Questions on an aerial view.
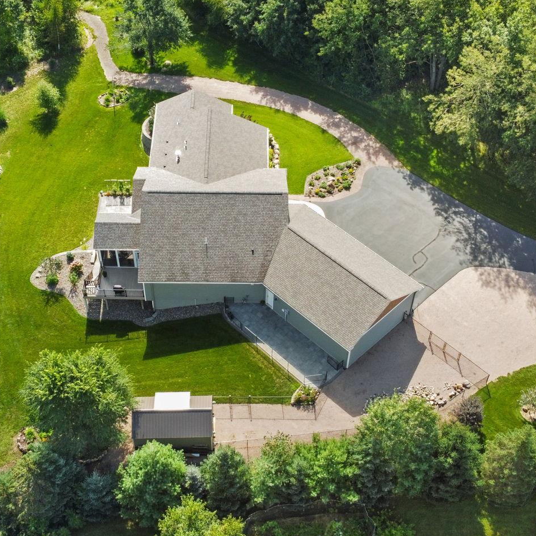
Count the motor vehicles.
0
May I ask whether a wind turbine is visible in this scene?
No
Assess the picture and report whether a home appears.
Yes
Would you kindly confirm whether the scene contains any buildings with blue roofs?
No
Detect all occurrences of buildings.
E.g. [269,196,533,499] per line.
[81,88,423,369]
[130,389,214,453]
